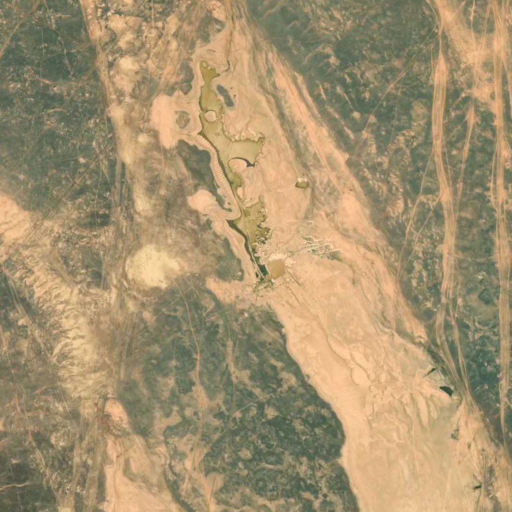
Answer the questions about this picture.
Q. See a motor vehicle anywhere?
No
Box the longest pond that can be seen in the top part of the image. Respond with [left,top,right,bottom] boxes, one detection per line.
[199,61,264,199]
